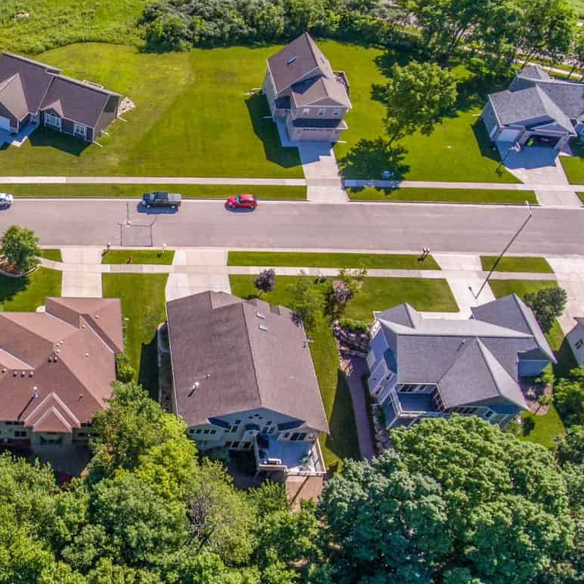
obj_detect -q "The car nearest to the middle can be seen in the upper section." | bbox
[227,195,258,210]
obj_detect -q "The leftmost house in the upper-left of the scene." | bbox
[0,49,125,148]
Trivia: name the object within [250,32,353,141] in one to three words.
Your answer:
house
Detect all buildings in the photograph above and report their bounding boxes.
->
[373,292,557,432]
[165,290,330,490]
[0,296,123,453]
[0,49,125,148]
[250,32,353,141]
[565,317,584,362]
[482,64,584,150]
